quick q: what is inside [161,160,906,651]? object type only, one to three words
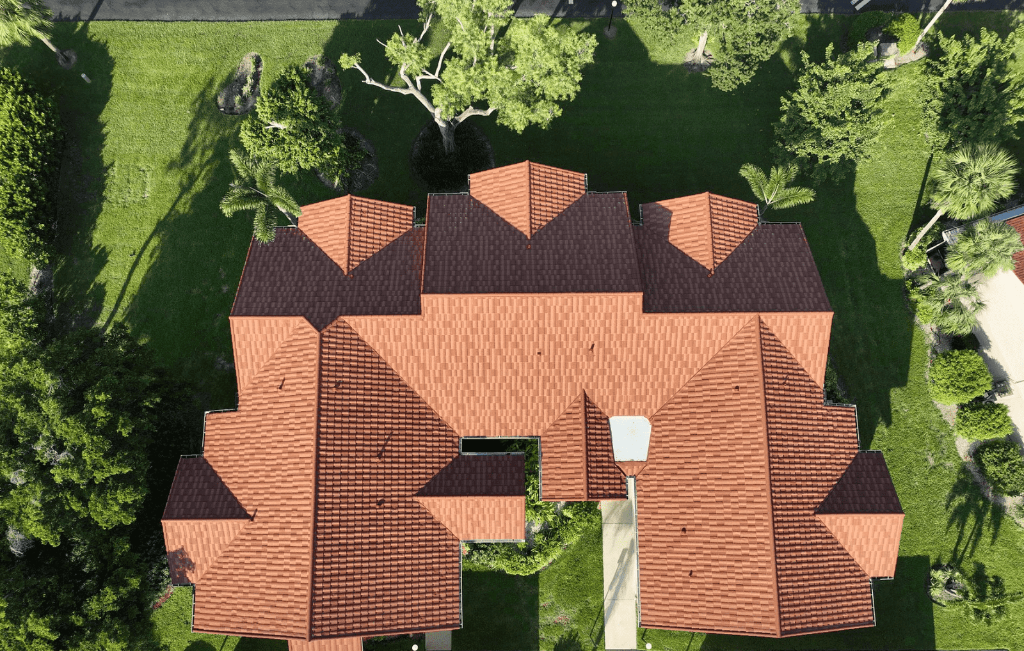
house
